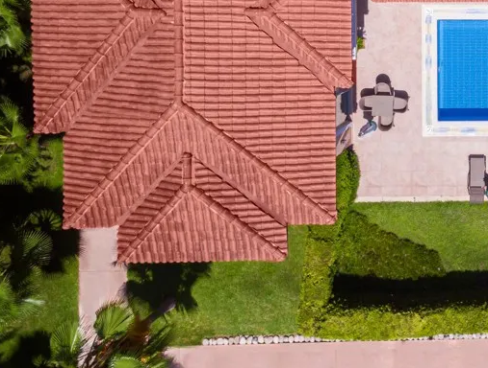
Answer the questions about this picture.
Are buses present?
No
